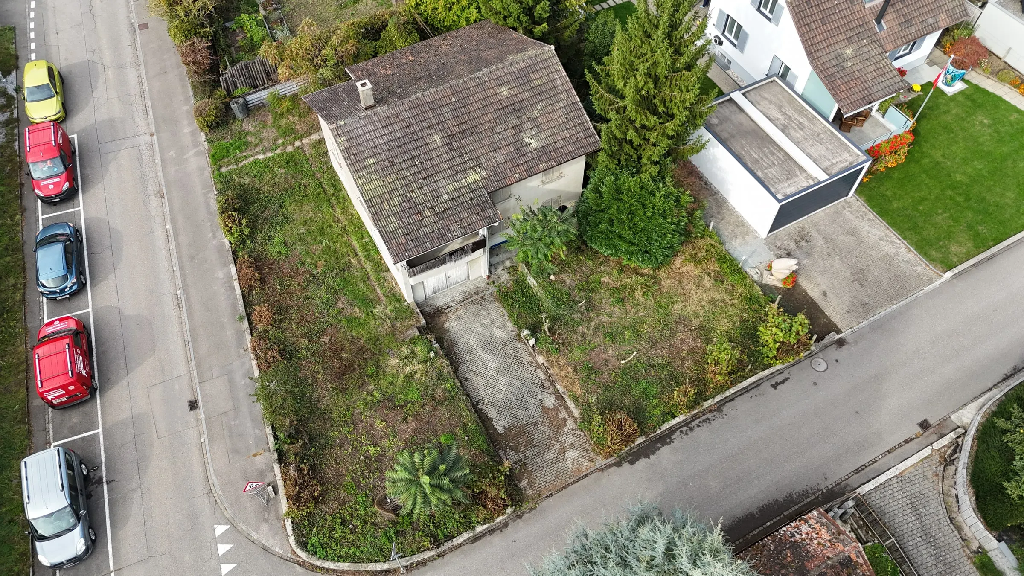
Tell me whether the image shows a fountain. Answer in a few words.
No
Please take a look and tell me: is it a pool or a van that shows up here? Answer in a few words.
van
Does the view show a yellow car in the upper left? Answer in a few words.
Yes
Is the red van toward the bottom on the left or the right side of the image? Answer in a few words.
left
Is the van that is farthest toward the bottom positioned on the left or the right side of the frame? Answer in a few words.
left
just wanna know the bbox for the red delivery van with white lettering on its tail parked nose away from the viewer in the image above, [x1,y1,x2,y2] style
[22,317,95,421]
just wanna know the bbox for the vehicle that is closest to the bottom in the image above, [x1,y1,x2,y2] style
[20,451,95,571]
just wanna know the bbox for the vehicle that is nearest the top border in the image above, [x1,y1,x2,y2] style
[13,60,66,125]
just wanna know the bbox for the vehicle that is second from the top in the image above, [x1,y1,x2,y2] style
[18,118,78,207]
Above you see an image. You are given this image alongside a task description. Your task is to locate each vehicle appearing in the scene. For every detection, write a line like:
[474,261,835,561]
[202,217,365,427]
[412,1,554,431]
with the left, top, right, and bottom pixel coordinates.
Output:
[22,317,95,421]
[18,118,78,207]
[24,222,86,308]
[20,451,95,571]
[13,60,66,125]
